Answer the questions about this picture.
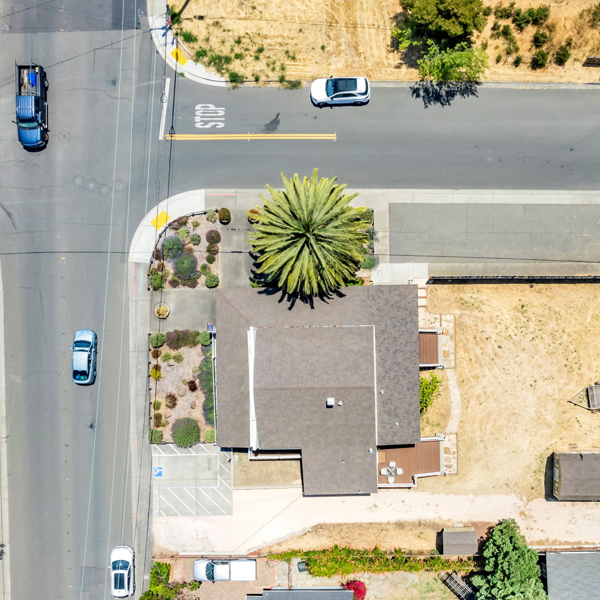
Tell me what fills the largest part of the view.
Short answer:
paved ground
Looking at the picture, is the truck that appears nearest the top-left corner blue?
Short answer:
Yes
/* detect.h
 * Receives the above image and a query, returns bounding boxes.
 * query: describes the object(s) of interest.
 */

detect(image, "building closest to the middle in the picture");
[215,283,420,494]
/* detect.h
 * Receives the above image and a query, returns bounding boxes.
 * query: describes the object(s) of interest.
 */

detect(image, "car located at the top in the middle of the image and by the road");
[310,74,370,106]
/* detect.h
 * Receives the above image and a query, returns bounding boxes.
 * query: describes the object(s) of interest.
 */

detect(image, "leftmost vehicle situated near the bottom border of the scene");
[106,542,136,599]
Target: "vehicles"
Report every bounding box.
[106,542,136,599]
[16,62,50,147]
[195,558,257,586]
[69,329,99,385]
[310,74,370,106]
